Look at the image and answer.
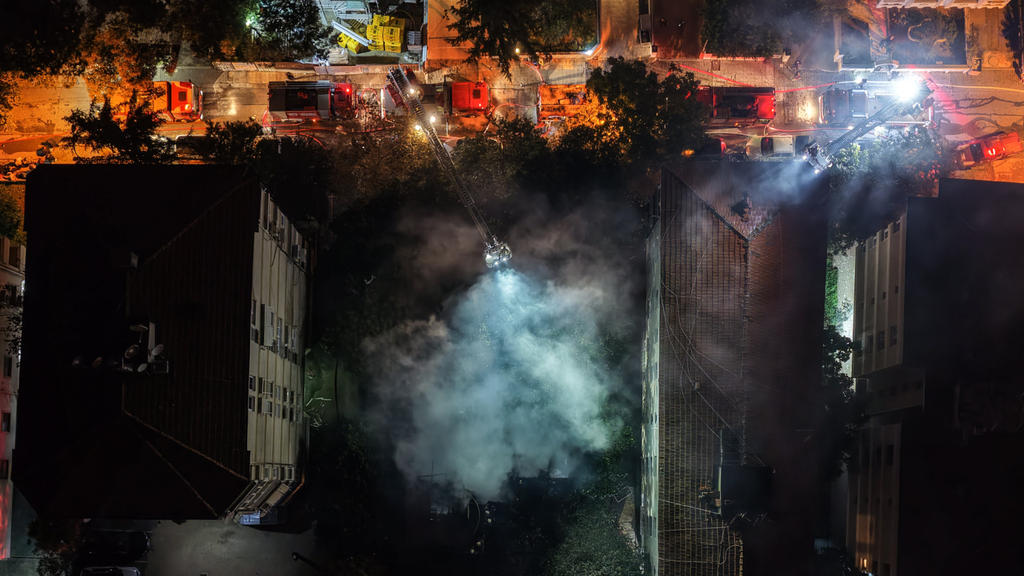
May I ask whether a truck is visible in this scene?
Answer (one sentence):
Yes, the photo shows a truck.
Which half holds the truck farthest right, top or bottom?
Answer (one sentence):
Seen from above, the truck farthest right lies in the top half of the view.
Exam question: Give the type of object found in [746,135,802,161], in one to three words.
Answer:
car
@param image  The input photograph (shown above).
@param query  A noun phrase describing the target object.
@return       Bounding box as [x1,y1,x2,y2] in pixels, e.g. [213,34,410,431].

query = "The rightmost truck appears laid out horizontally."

[952,132,1022,170]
